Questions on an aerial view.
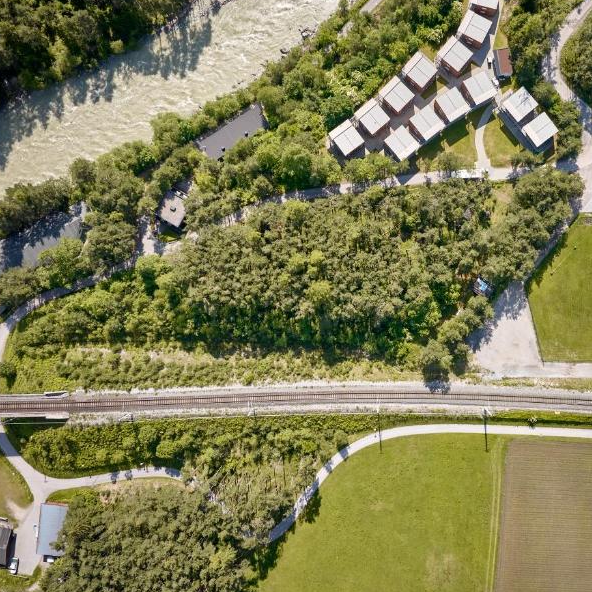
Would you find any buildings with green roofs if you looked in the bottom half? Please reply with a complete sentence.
No, there's no building with a green roof to be seen in the bottom half.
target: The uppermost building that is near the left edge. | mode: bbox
[4,210,86,283]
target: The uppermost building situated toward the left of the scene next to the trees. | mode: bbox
[195,103,269,160]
